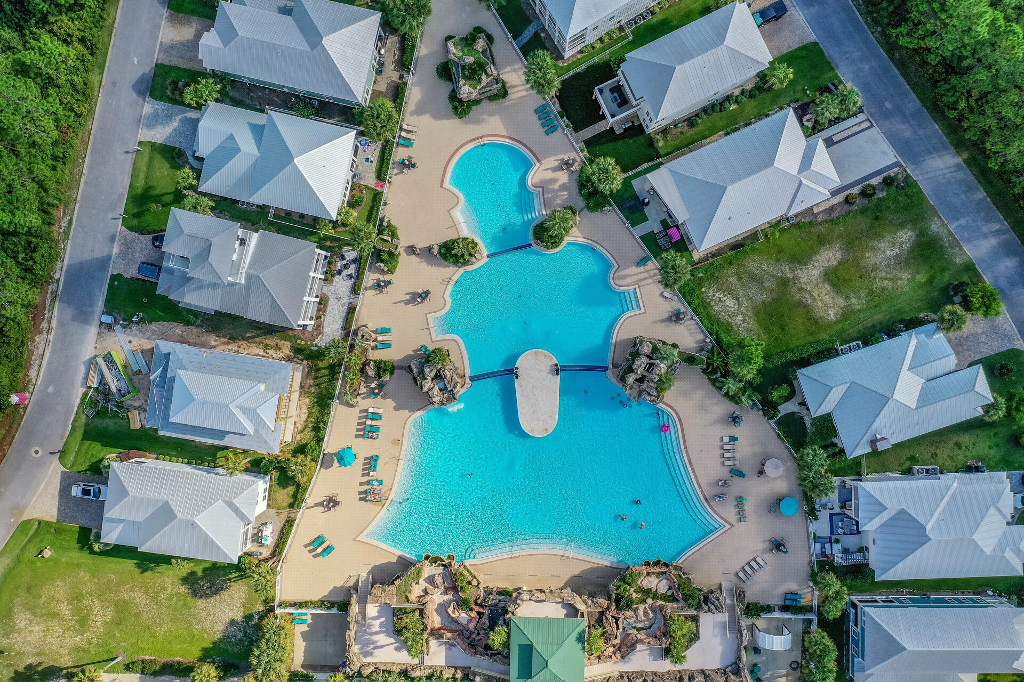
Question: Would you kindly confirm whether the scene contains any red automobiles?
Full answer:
No, the photo shows no red automobile.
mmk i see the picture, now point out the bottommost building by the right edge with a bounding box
[846,595,1024,682]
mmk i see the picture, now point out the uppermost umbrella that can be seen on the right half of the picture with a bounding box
[762,457,783,478]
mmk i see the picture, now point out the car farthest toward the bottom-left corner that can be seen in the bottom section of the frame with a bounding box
[66,483,108,502]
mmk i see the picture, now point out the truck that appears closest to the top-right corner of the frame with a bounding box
[751,0,795,26]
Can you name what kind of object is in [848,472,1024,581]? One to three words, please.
house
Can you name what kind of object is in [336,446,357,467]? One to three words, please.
umbrella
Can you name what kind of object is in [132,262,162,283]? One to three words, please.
car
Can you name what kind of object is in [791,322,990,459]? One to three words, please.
house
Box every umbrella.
[336,446,357,467]
[762,457,783,478]
[777,496,798,516]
